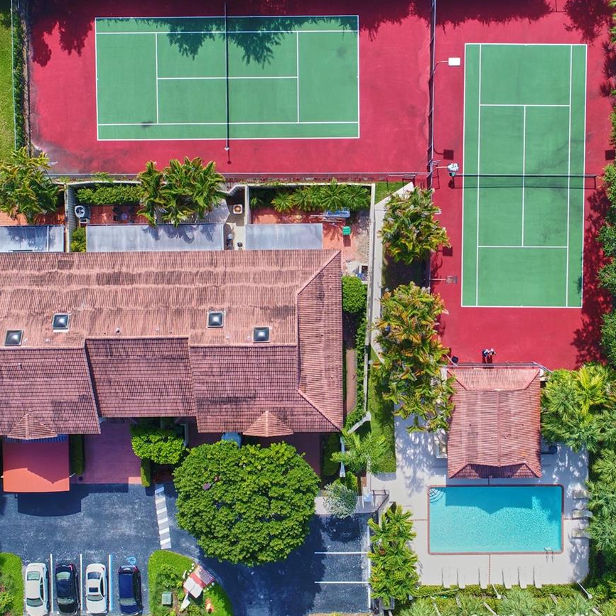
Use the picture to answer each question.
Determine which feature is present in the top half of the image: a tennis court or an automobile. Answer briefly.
tennis court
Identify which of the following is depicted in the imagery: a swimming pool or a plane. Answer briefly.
swimming pool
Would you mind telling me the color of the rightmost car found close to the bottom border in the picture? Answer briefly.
blue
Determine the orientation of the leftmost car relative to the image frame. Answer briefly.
up and down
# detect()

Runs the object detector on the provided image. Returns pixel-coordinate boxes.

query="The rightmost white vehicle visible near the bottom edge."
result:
[84,561,110,614]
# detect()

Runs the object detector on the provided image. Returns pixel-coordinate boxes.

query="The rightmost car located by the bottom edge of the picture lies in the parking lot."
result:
[117,563,142,616]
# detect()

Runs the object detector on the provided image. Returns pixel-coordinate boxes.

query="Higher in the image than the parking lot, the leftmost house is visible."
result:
[0,250,344,438]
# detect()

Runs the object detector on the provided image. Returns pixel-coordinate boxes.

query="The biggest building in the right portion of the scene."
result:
[445,367,543,479]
